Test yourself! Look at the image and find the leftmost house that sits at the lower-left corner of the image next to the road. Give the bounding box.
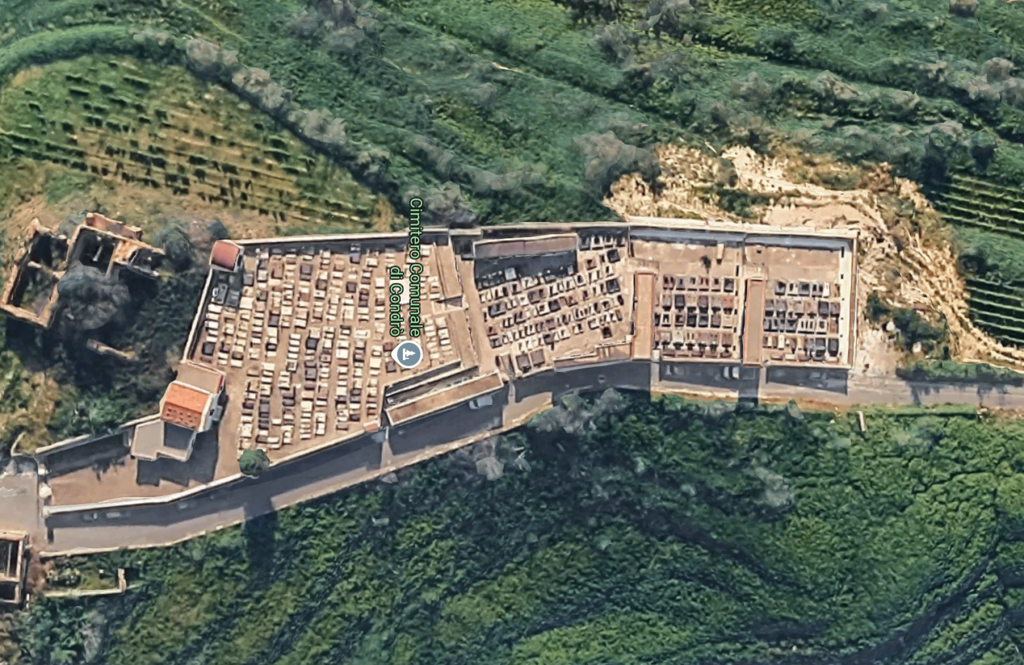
[0,528,36,607]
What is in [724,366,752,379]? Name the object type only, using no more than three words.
vehicle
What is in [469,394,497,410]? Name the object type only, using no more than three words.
car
